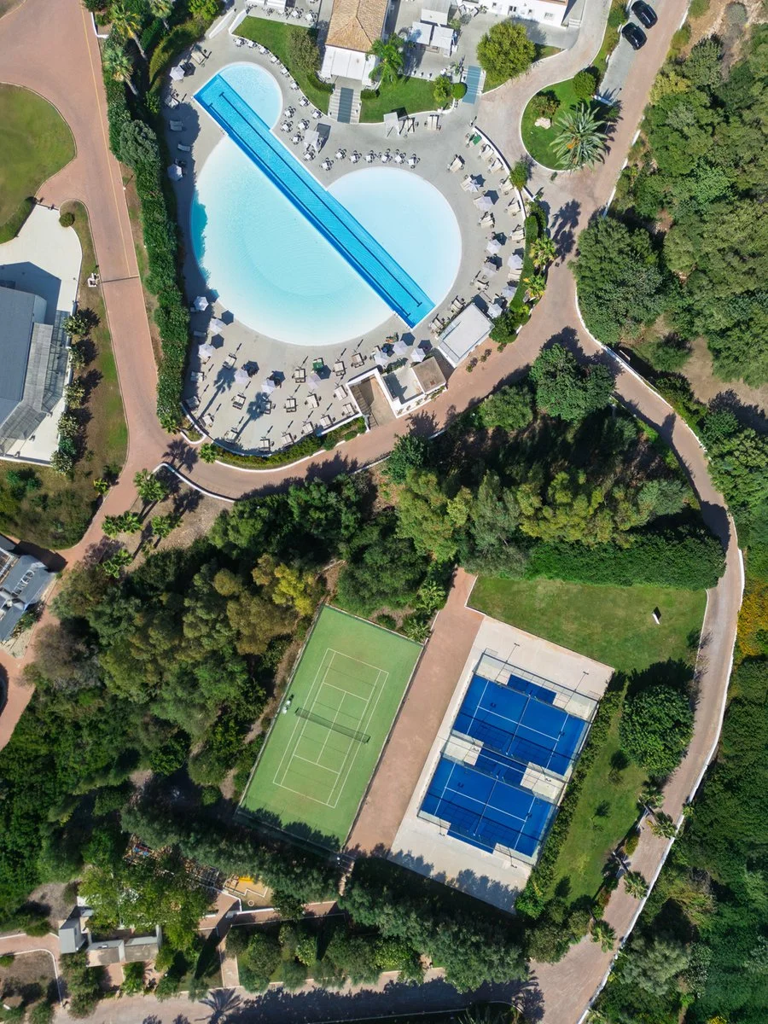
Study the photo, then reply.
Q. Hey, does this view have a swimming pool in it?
Yes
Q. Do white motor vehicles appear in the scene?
No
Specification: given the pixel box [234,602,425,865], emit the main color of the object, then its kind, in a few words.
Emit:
green tennis court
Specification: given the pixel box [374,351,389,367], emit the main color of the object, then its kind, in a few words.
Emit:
white umbrella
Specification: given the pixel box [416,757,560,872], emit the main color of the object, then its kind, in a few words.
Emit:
blue sports court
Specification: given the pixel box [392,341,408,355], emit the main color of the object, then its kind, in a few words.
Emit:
white umbrella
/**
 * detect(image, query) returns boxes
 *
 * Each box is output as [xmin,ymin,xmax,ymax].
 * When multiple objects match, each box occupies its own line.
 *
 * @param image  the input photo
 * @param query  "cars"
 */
[621,23,646,52]
[631,1,656,30]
